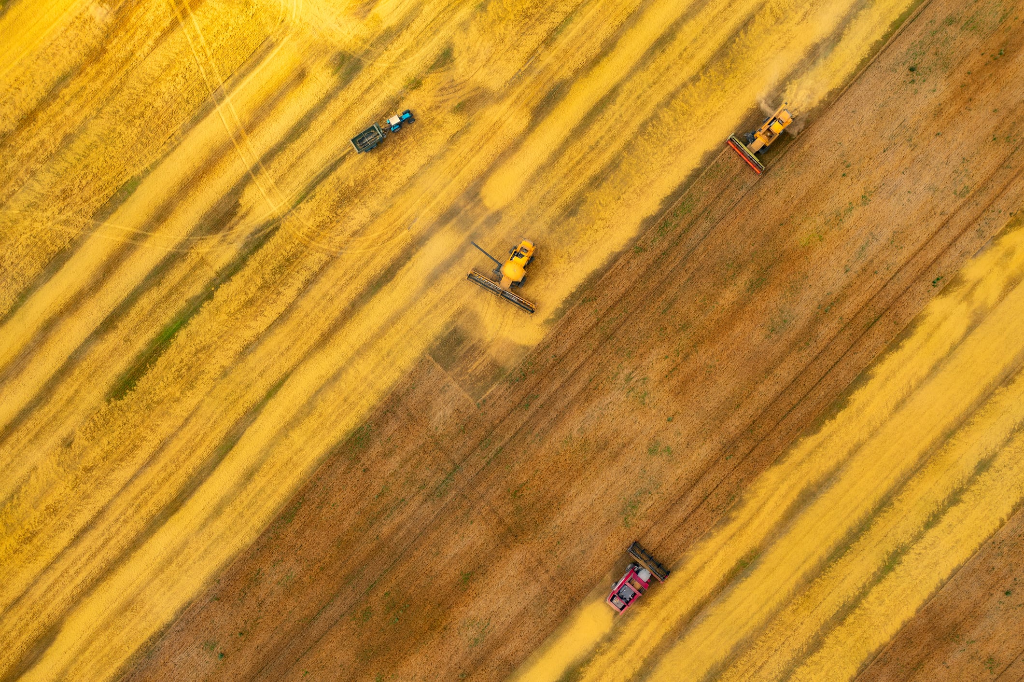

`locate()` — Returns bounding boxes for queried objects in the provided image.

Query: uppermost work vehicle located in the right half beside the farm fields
[726,101,793,174]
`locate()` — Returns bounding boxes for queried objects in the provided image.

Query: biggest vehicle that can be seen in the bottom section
[607,542,672,615]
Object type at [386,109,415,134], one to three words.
work vehicle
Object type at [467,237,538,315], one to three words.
work vehicle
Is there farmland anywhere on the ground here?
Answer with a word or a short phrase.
Yes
